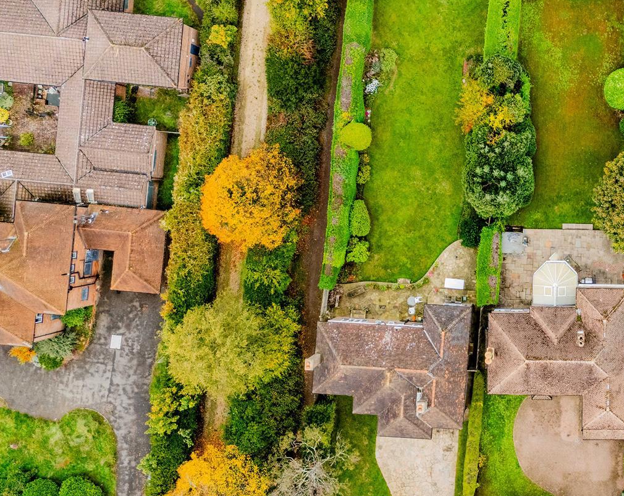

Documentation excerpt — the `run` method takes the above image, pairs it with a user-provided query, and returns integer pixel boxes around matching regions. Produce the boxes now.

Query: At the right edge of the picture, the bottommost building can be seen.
[485,286,624,441]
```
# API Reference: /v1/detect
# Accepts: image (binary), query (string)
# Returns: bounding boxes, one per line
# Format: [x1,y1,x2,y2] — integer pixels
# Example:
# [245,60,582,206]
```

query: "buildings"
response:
[0,0,198,214]
[485,286,624,441]
[304,301,472,439]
